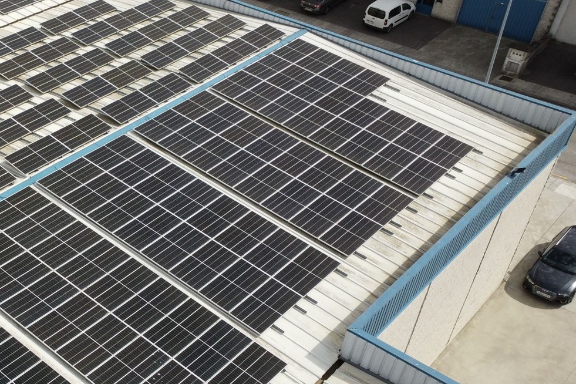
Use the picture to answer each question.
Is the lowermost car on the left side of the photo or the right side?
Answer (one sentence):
It is on the right.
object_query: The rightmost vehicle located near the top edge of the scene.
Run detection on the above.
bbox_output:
[363,0,419,33]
